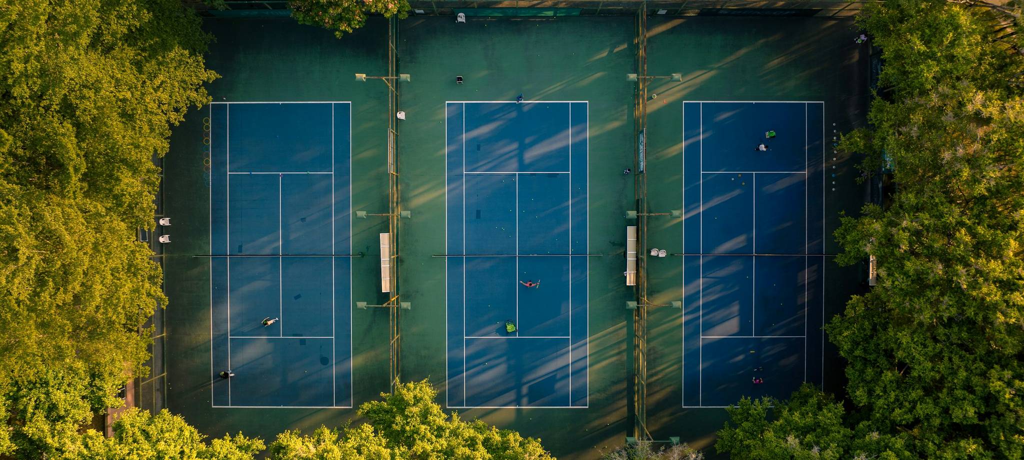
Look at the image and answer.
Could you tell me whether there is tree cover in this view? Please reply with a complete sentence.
Yes, there's tree cover in this view.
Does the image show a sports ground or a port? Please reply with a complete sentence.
The area seen from above is a sports ground.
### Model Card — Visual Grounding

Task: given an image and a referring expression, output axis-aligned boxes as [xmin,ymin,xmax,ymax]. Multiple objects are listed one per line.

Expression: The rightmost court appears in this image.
[637,18,869,460]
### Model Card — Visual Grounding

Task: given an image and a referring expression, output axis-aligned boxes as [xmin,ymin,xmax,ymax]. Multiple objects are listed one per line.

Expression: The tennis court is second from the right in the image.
[399,18,636,460]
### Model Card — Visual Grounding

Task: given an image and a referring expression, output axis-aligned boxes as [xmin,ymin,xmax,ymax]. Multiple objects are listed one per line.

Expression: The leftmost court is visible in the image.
[164,18,398,460]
